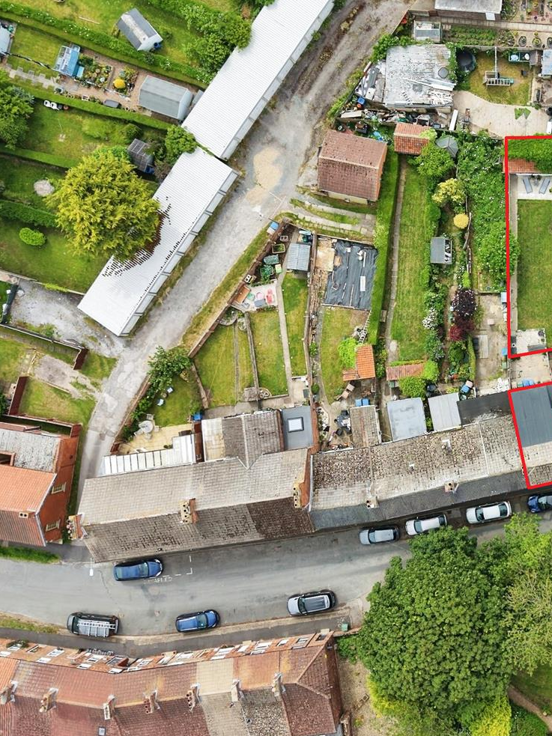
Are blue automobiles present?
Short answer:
Yes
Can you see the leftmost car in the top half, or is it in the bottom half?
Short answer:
bottom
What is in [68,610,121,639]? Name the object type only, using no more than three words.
car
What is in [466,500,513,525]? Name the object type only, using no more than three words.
car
